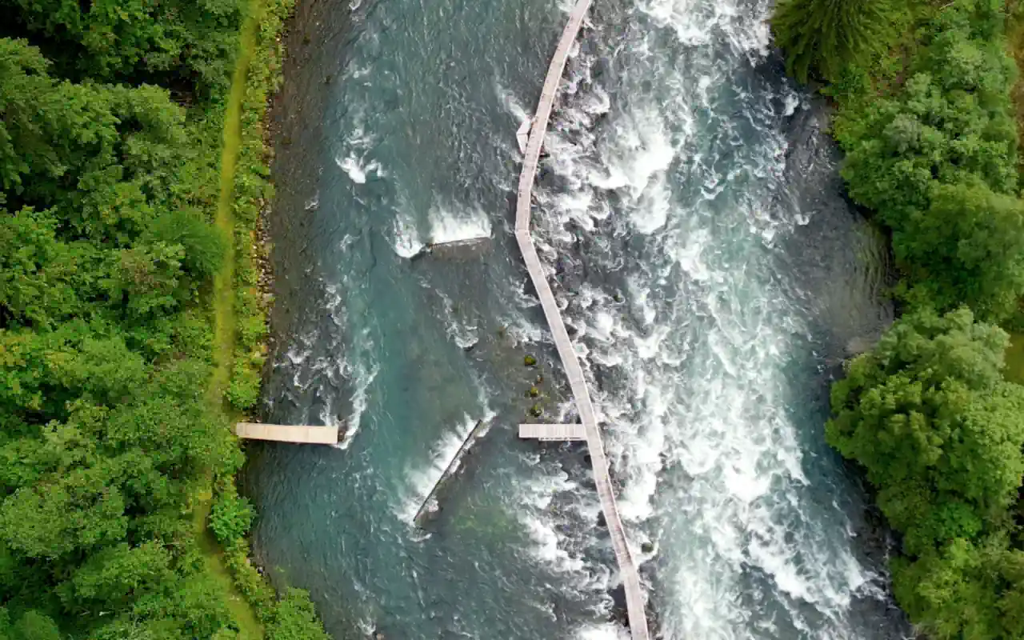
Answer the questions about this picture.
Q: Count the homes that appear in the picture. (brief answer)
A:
0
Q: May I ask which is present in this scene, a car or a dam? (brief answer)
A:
dam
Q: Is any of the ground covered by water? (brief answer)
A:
Yes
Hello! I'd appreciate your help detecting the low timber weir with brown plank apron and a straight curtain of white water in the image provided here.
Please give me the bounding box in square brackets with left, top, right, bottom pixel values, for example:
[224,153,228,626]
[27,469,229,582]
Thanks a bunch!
[410,236,492,260]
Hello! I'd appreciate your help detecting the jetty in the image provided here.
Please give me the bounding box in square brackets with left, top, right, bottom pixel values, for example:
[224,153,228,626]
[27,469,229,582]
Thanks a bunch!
[236,422,340,444]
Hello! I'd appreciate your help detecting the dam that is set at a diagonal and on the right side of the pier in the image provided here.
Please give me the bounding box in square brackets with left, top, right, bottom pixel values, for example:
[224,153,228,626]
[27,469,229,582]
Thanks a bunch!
[413,420,493,525]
